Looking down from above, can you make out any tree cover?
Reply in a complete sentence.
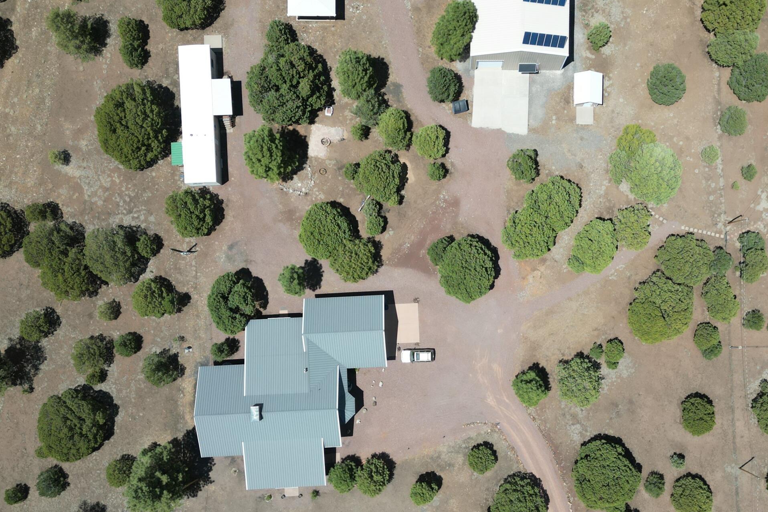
Yes, the picture does contain tree cover.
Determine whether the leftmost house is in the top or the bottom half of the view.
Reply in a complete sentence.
The leftmost house sits in the top half of the picture.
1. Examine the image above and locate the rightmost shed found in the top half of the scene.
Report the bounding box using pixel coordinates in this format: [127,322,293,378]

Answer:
[573,70,602,107]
